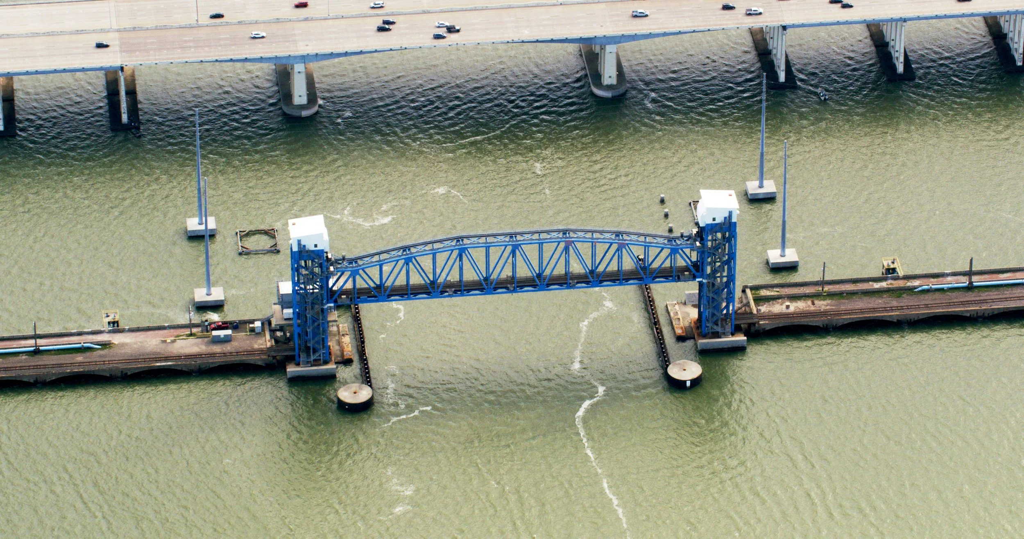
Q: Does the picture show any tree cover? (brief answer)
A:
No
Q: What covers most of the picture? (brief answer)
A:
water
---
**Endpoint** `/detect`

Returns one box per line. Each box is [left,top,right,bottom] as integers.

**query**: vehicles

[293,0,307,7]
[376,24,391,31]
[745,7,762,15]
[434,20,449,27]
[432,32,446,39]
[250,31,265,38]
[446,24,460,32]
[631,9,648,16]
[95,41,109,48]
[381,17,396,24]
[839,1,853,7]
[209,12,224,18]
[720,2,735,9]
[369,1,384,8]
